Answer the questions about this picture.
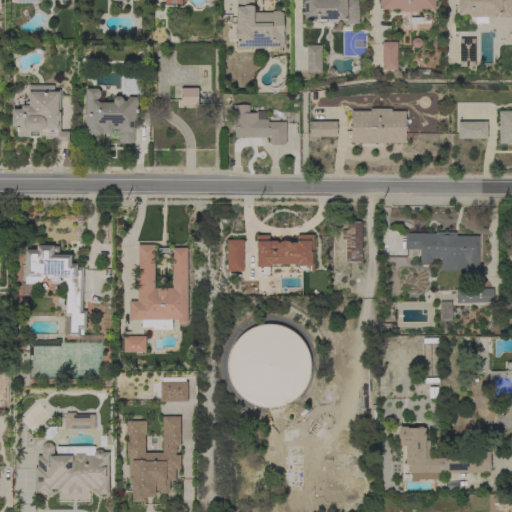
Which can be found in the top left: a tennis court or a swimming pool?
swimming pool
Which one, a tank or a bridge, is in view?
tank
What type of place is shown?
residential area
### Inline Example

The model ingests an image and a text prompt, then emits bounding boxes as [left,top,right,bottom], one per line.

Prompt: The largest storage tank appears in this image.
[228,324,312,408]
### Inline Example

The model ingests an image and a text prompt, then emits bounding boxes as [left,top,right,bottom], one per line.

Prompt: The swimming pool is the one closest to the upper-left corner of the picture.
[22,14,48,32]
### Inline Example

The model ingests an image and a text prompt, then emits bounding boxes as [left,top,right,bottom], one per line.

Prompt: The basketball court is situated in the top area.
[344,31,368,56]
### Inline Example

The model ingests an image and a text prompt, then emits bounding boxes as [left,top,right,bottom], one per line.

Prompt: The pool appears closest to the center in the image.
[281,277,302,292]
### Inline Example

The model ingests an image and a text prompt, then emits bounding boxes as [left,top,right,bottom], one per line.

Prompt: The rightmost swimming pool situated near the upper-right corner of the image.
[481,32,494,63]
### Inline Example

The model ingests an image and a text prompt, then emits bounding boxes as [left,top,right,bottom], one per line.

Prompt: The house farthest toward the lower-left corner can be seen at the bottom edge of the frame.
[38,441,111,504]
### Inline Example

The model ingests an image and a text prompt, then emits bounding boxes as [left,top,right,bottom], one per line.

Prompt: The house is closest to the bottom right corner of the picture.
[400,427,493,481]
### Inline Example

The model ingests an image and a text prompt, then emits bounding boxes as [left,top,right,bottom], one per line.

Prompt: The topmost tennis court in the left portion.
[33,342,103,378]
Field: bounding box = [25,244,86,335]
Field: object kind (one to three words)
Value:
house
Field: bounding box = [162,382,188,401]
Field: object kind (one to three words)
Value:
shed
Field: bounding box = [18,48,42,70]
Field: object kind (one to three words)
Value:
swimming pool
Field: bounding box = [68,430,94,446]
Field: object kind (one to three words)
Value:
swimming pool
